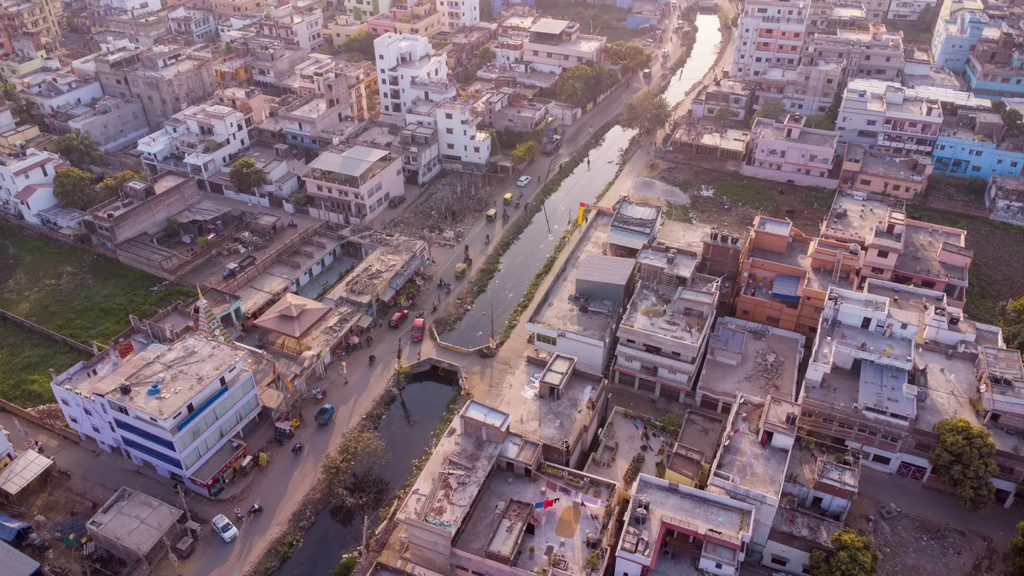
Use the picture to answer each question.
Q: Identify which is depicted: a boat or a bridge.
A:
bridge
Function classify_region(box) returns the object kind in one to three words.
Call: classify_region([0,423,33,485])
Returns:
house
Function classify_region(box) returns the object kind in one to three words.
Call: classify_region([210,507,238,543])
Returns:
car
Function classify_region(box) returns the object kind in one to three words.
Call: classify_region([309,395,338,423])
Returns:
truck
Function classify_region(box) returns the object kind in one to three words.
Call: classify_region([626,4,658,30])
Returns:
shed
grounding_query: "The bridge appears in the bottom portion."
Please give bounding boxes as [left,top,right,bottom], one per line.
[392,325,509,391]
